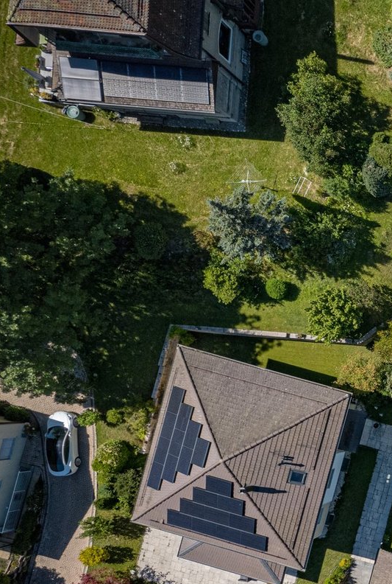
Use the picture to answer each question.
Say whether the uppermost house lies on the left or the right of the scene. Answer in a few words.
left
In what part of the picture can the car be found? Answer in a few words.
bottom left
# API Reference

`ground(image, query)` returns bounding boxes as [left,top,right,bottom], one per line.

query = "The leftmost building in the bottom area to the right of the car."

[130,344,371,584]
